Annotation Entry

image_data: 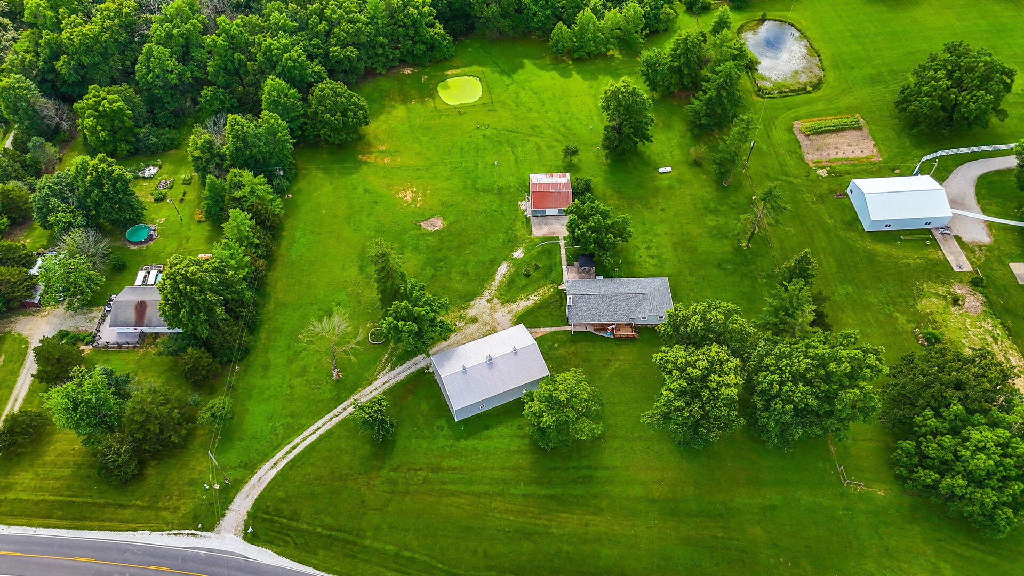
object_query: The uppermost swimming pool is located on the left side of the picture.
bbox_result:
[123,223,152,246]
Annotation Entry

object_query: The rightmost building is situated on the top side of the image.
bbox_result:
[848,175,953,231]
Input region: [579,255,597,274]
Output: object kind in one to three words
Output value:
gazebo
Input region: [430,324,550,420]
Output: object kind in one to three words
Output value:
barn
